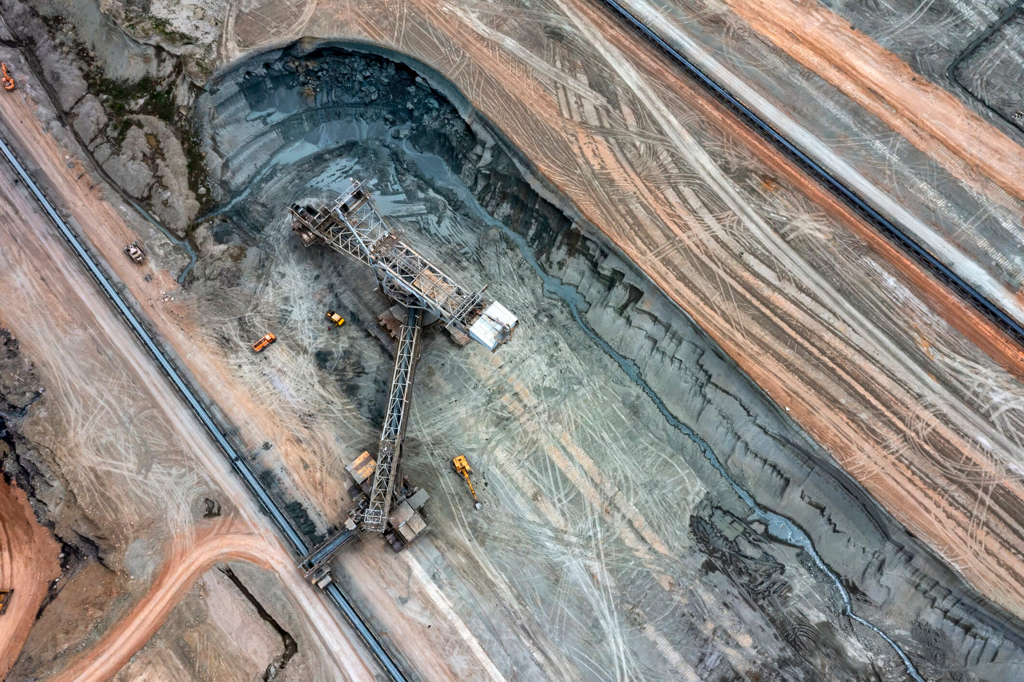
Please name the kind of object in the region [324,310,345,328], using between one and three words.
work vehicle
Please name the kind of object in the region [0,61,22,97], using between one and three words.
work vehicle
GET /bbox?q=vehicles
[324,310,345,328]
[450,457,483,517]
[119,240,145,267]
[287,176,521,531]
[0,61,22,97]
[0,587,13,613]
[248,332,278,354]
